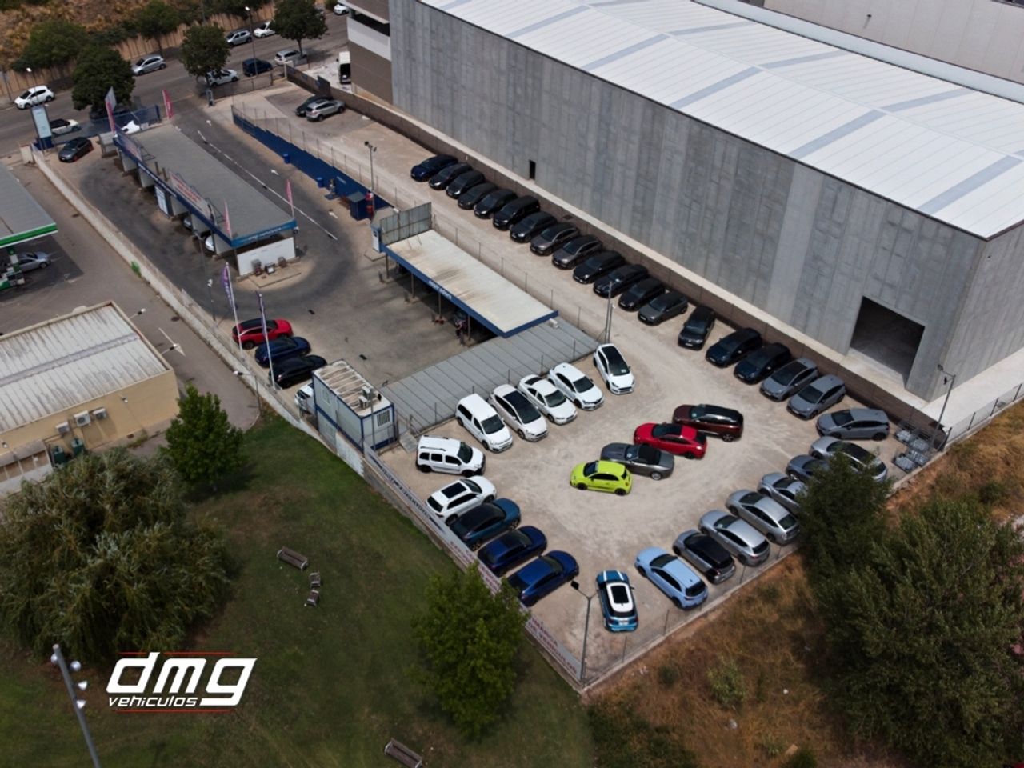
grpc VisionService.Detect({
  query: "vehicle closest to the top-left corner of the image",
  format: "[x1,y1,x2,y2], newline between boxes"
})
[14,86,57,108]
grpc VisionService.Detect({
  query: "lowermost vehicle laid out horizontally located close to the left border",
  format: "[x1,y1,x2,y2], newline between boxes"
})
[0,247,57,271]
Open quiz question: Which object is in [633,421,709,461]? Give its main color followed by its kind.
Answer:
red car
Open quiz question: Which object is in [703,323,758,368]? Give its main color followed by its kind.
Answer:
black car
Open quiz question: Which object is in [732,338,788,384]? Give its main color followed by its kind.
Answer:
black car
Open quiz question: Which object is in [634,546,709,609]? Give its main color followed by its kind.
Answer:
blue car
